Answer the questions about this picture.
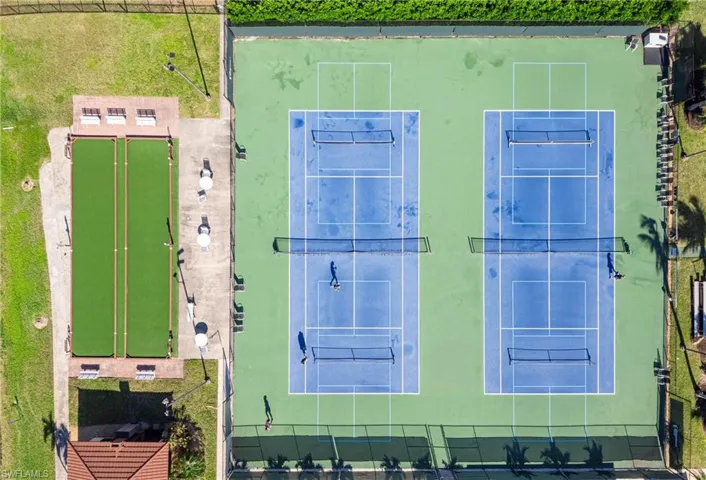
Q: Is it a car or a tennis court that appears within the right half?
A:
tennis court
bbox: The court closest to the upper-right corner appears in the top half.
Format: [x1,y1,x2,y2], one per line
[513,63,586,223]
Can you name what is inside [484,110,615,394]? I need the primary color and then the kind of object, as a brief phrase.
blue tennis court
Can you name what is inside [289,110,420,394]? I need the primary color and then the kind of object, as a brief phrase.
blue tennis court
